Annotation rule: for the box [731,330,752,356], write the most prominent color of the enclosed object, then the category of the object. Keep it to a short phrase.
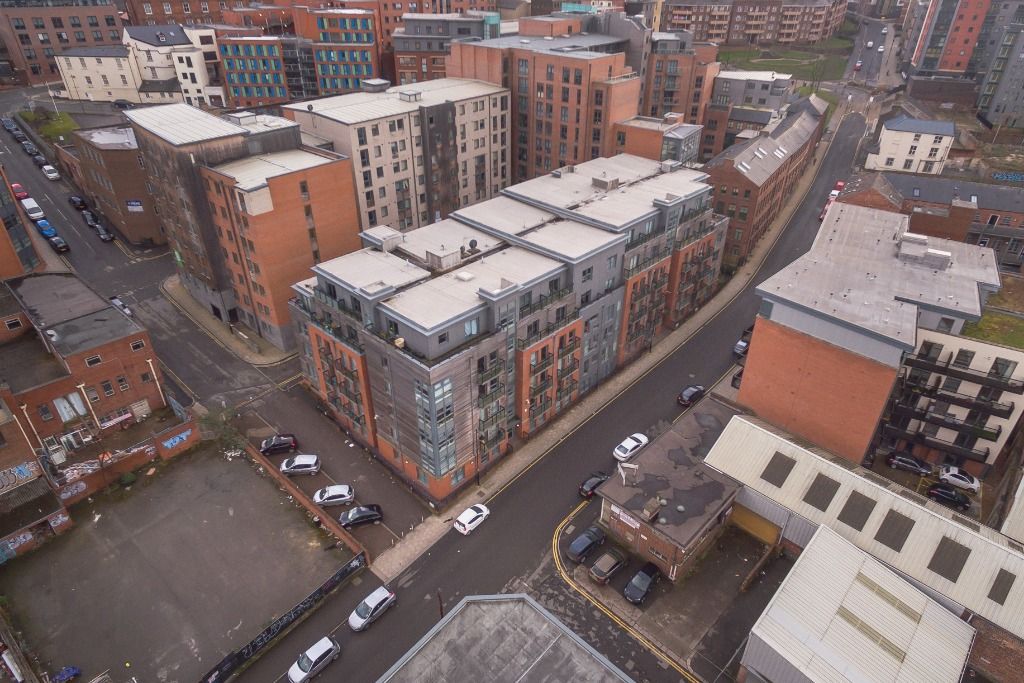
gray car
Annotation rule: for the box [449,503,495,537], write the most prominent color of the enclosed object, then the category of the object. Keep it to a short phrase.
white car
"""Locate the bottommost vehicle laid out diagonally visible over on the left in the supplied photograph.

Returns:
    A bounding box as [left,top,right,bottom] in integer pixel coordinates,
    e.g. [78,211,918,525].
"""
[284,636,342,683]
